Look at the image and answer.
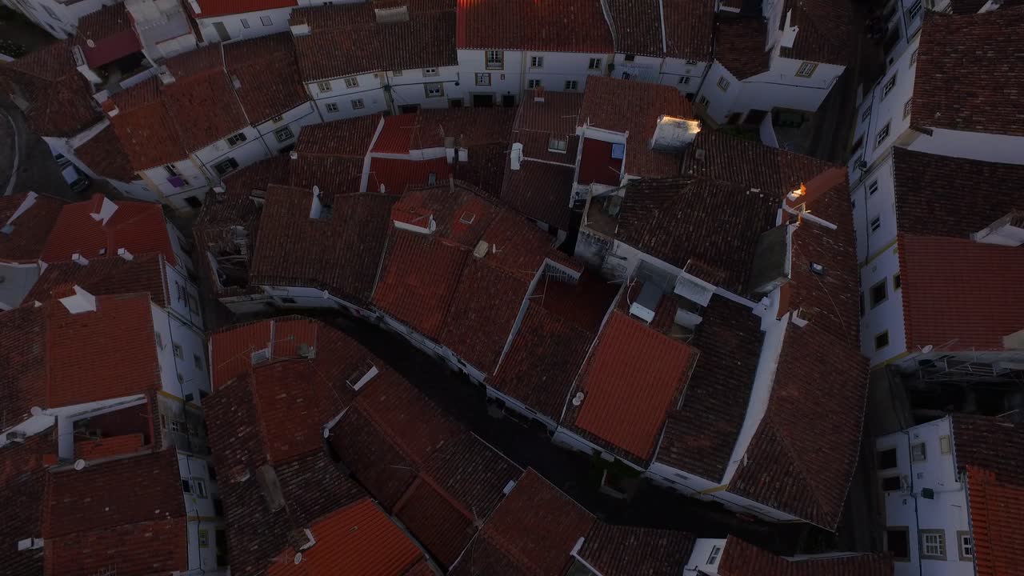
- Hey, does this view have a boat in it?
No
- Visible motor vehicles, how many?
1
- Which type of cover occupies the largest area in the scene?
buildings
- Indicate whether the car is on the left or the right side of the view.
left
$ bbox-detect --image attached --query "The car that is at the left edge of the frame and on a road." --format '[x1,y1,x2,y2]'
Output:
[46,148,89,195]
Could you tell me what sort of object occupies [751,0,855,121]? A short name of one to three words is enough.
house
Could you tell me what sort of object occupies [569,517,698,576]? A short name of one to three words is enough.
house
